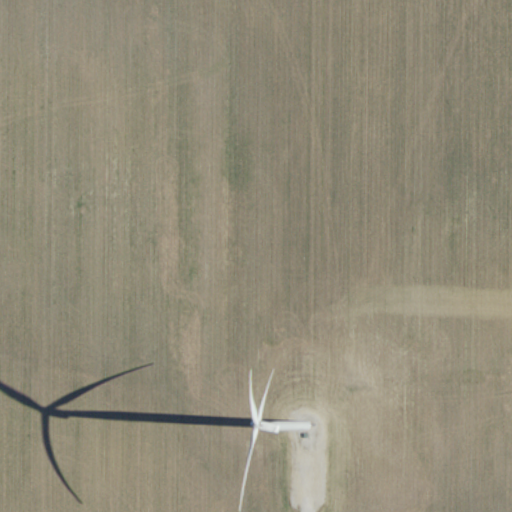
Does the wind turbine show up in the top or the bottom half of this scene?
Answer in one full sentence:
Seen from above, the wind turbine lies in the bottom half of the view.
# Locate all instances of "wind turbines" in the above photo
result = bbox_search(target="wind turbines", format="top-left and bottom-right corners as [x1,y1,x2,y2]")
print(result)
[240,370,316,512]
